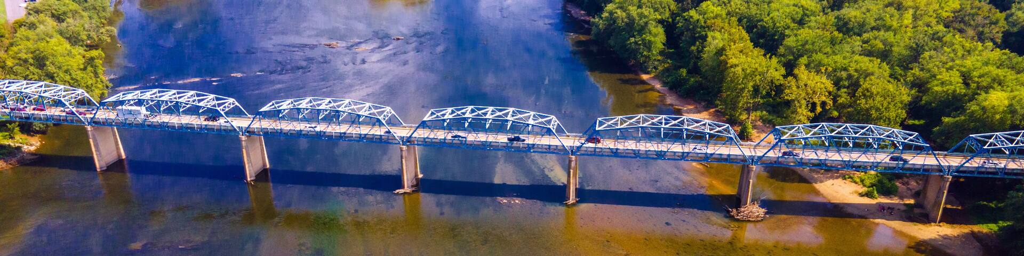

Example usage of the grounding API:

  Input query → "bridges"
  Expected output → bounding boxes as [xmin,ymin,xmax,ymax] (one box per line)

[0,81,1024,226]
